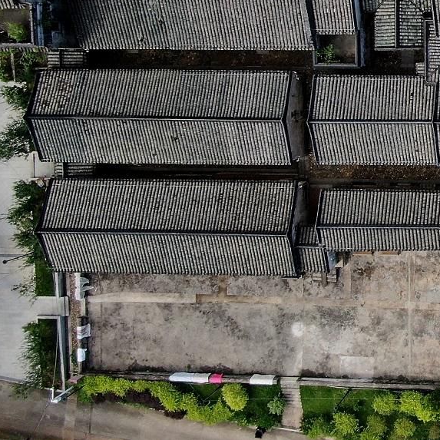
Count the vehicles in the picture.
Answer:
zero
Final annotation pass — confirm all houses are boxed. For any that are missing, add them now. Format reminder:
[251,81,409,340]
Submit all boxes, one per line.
[25,70,307,167]
[355,0,433,64]
[307,76,436,165]
[65,0,314,50]
[36,177,314,277]
[315,188,440,252]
